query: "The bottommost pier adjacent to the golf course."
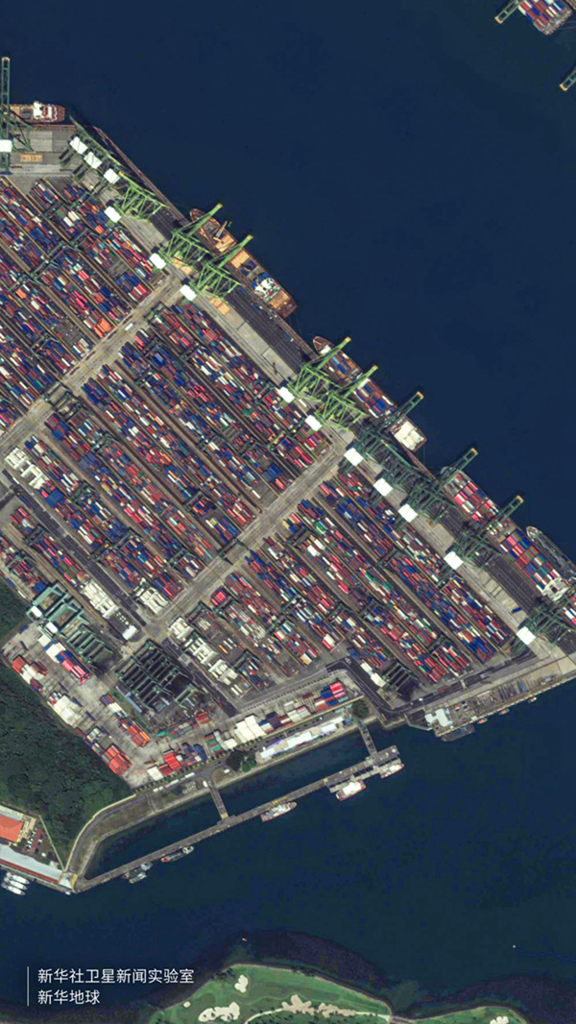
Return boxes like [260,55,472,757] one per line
[75,745,402,892]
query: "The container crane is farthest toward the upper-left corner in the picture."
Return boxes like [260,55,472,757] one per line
[0,57,32,161]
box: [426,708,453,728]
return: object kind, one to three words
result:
building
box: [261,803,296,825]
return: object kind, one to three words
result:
ship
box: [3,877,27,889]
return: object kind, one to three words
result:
boat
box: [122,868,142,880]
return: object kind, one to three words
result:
ship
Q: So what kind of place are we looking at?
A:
port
